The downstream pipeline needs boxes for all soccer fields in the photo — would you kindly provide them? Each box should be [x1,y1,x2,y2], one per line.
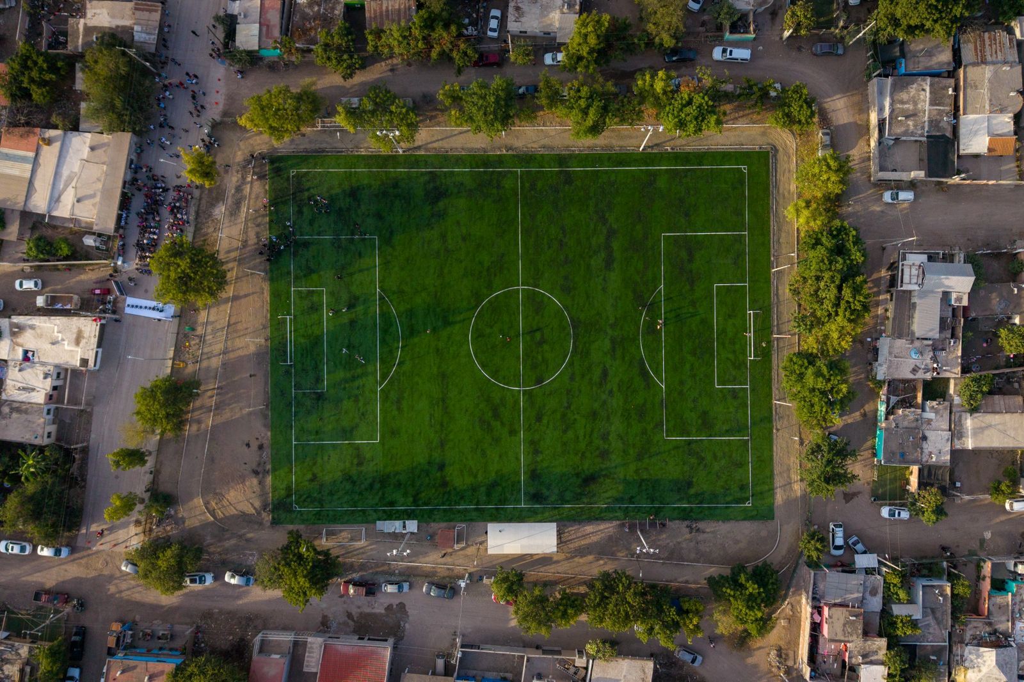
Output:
[267,149,776,526]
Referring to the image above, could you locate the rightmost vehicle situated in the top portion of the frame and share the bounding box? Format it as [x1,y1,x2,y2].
[881,189,914,203]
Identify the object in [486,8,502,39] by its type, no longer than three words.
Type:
car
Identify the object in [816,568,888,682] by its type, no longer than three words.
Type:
house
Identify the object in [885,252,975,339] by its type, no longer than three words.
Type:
house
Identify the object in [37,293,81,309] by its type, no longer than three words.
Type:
vehicle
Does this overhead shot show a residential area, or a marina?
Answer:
residential area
